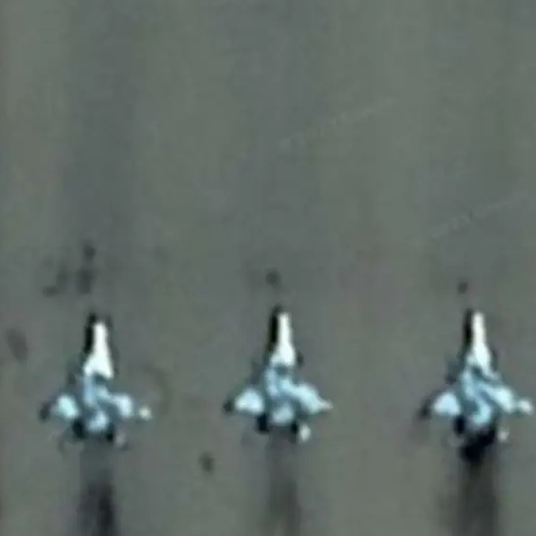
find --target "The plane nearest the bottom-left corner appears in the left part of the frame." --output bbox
[51,321,148,447]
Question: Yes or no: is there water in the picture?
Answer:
No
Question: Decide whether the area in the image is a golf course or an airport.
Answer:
airport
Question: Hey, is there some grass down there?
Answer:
No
